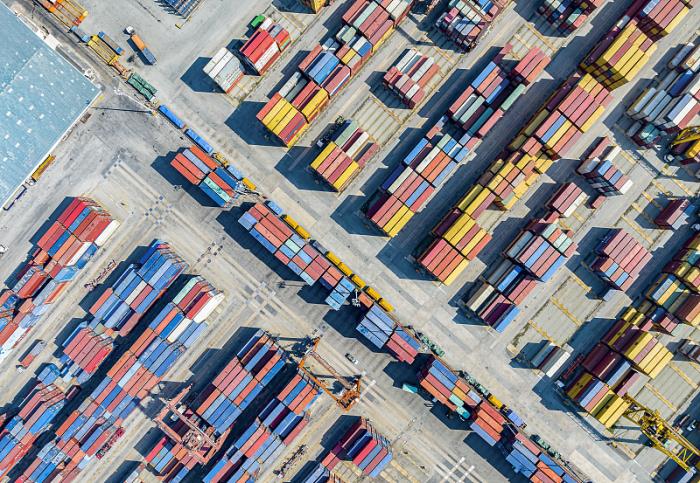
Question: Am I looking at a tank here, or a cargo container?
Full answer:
The one in the frame is a cargo container.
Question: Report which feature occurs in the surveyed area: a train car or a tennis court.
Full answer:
I can see a train car in this picture.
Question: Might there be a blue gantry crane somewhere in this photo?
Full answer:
No, no blue gantry crane is visible in the scene.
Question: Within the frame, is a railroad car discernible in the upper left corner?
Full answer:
Yes, a railroad car is visible in the upper left corner.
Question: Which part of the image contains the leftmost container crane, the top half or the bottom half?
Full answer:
Seen from above, the leftmost container crane lies in the bottom half of the view.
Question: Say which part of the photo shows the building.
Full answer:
The building is in the top left part of the image.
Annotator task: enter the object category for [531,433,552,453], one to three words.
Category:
rail car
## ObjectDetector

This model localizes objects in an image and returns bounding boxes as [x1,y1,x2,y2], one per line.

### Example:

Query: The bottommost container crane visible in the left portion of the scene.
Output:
[149,383,234,468]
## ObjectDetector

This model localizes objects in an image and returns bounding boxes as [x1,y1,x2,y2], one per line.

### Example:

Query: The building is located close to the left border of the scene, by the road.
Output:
[0,0,107,214]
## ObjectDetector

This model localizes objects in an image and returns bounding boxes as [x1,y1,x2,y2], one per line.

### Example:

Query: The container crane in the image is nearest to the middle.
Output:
[291,334,360,409]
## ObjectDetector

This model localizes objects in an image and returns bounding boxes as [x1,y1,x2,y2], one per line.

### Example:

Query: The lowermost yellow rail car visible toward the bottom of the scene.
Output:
[485,392,504,411]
